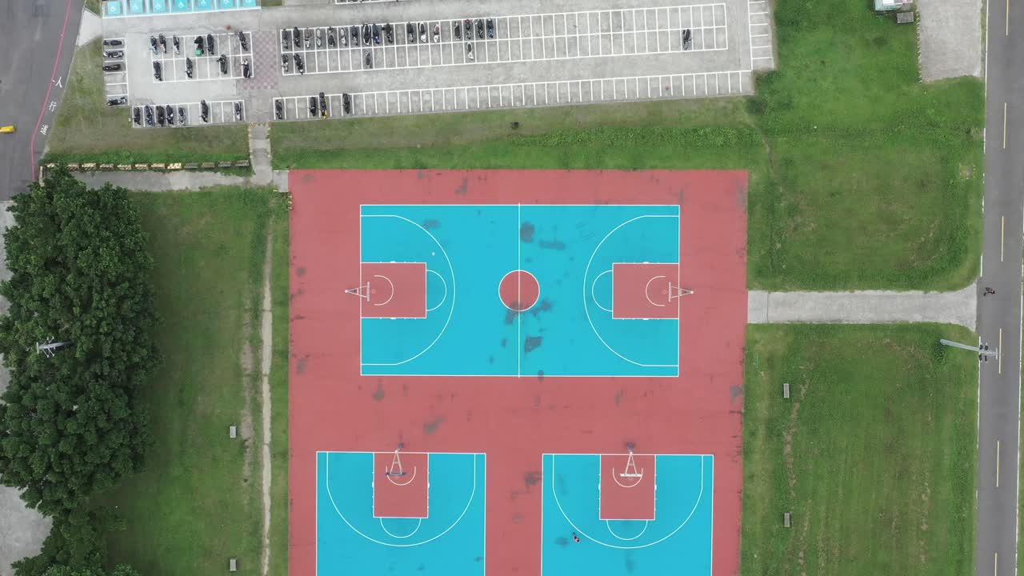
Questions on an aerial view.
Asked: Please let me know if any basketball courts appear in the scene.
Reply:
Yes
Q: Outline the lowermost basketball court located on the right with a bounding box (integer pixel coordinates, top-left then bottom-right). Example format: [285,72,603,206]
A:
[541,453,714,576]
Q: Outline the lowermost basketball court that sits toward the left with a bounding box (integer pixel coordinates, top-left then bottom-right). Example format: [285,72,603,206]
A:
[316,451,486,576]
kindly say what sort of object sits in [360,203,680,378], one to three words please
basketball court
